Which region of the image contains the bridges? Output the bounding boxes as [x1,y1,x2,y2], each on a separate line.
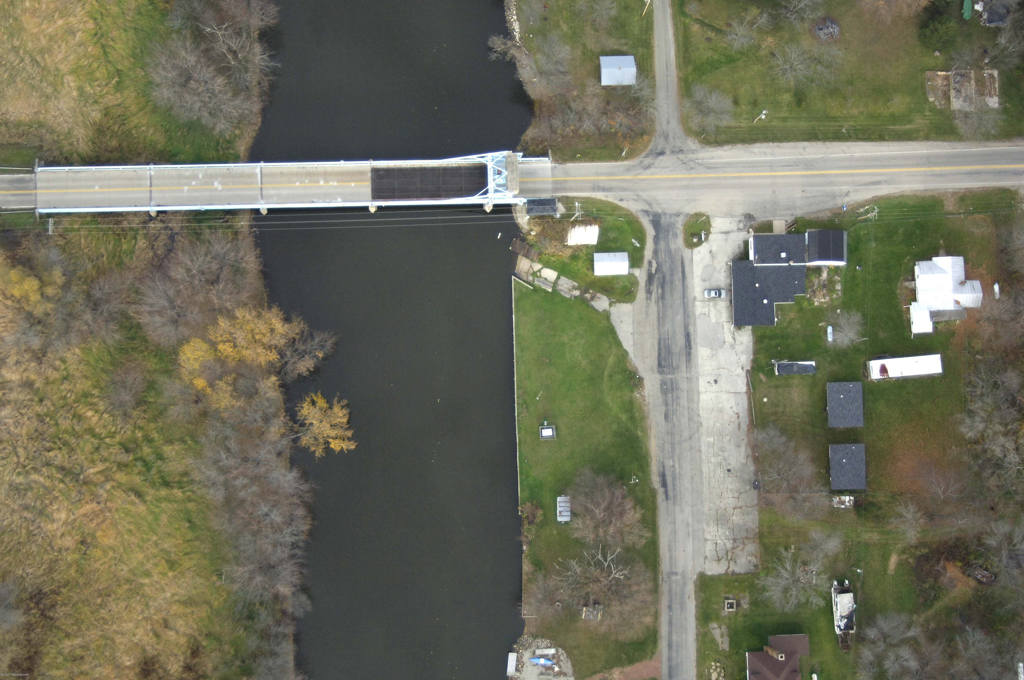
[32,143,553,234]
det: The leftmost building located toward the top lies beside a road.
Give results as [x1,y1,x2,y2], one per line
[526,199,556,217]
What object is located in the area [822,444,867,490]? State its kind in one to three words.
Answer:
building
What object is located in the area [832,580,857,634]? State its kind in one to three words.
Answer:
boat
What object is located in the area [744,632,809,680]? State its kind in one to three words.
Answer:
house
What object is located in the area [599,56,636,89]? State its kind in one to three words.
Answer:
shed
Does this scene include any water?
Yes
